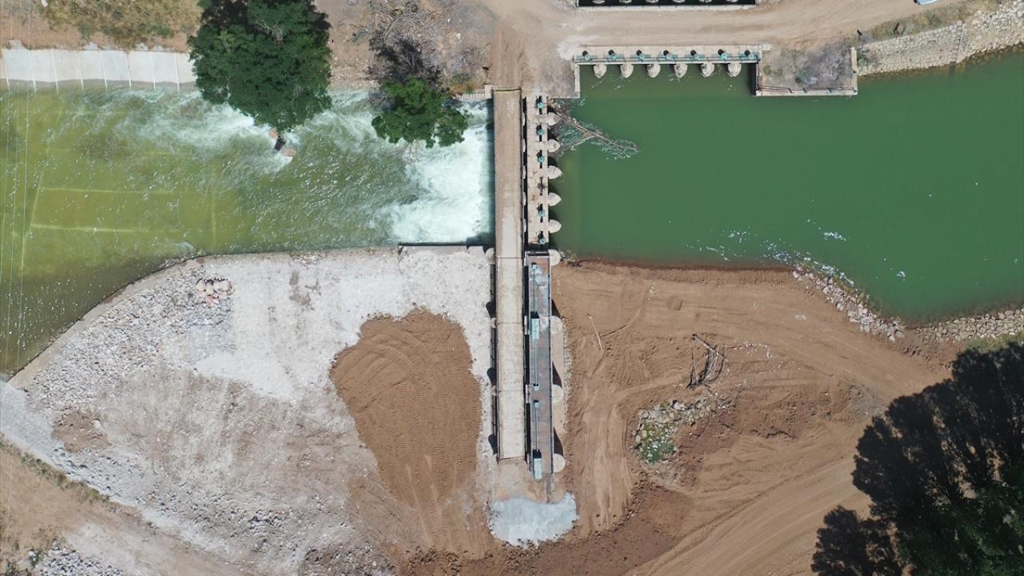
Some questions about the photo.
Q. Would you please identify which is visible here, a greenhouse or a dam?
dam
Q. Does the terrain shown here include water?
Yes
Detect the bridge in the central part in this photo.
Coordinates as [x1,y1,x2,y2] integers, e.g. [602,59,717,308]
[490,87,526,460]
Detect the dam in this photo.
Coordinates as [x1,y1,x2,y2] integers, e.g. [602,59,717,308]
[488,94,565,478]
